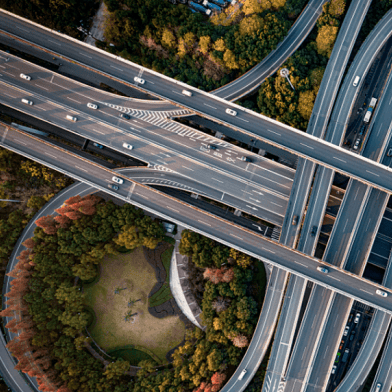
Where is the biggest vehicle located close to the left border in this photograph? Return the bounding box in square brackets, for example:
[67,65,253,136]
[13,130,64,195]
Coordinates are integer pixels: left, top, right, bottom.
[12,122,46,137]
